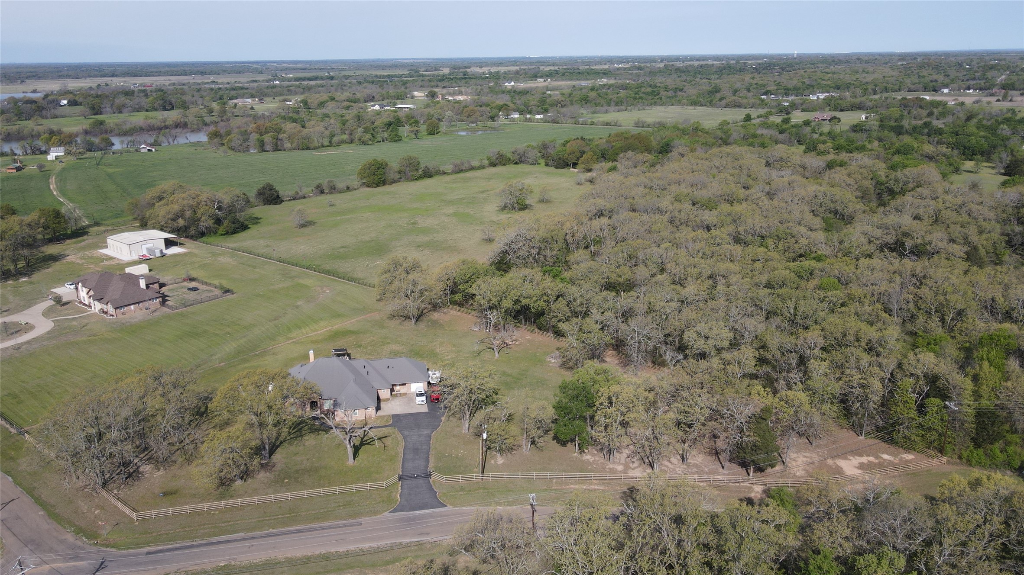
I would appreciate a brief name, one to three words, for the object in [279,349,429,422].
house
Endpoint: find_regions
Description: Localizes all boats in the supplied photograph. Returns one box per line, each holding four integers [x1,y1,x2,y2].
[428,367,440,382]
